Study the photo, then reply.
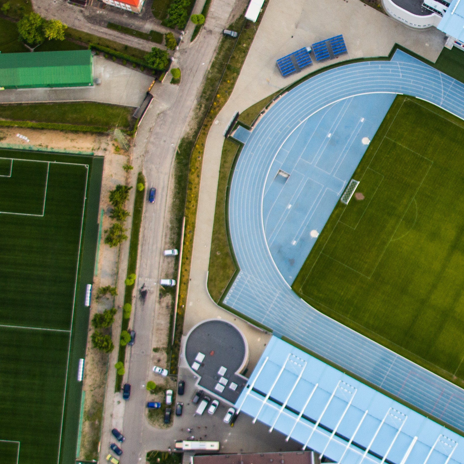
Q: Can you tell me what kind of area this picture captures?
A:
sports ground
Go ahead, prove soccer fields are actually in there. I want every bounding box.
[0,148,104,464]
[292,94,464,390]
